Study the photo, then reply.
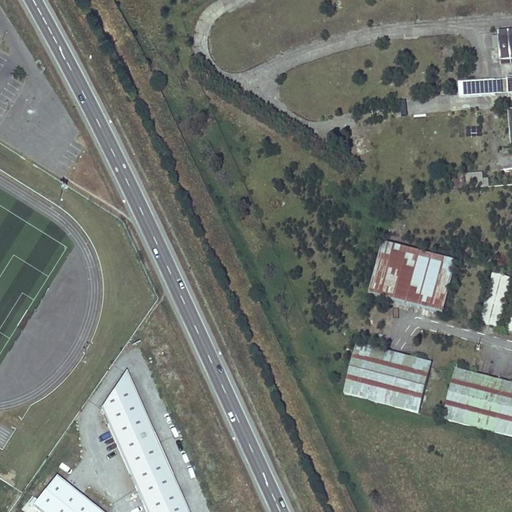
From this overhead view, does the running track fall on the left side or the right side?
left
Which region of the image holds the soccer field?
left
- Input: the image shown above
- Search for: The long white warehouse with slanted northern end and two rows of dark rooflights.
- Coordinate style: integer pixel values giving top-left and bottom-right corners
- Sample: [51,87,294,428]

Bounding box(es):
[101,368,190,512]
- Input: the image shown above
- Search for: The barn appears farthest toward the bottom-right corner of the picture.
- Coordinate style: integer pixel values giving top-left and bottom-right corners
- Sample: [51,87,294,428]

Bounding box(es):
[447,367,512,439]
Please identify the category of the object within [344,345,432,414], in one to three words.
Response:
barn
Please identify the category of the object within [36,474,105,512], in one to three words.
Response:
building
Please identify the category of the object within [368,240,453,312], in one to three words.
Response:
barn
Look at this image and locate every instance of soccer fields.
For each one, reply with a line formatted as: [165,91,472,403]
[0,188,74,362]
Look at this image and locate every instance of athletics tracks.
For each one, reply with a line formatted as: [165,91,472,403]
[0,170,102,409]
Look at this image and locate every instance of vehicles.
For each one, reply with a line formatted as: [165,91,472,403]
[178,278,185,289]
[216,364,224,374]
[170,424,179,438]
[278,498,286,508]
[78,93,85,104]
[164,413,172,424]
[180,451,190,464]
[98,432,112,441]
[106,451,116,459]
[186,466,196,478]
[176,440,184,451]
[227,411,236,424]
[152,248,159,258]
[104,438,114,446]
[58,460,72,472]
[106,444,116,451]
